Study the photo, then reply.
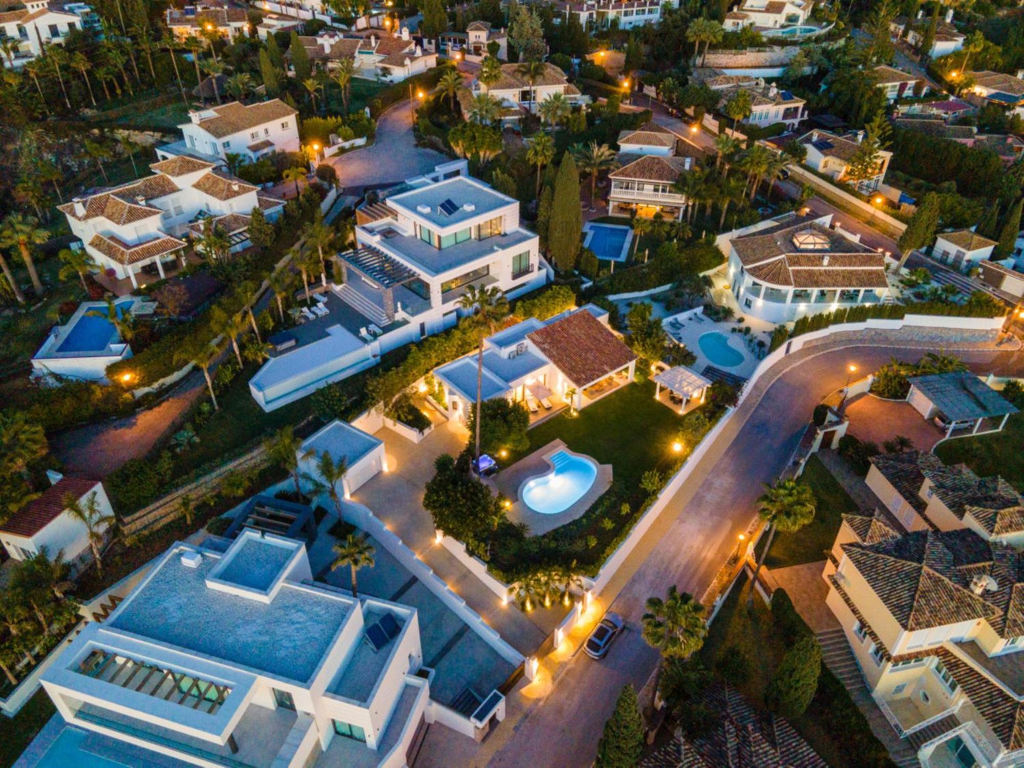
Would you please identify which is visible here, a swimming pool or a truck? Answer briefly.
swimming pool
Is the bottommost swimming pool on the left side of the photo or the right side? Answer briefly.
left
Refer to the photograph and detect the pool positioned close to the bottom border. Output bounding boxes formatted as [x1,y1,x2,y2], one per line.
[11,720,187,768]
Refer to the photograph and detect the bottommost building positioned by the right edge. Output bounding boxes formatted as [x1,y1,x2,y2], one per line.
[819,453,1024,768]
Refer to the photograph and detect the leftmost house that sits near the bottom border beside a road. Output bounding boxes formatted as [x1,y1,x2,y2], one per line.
[33,526,435,768]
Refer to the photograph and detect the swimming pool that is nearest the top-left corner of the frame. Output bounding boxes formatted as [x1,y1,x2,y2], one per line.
[28,295,158,373]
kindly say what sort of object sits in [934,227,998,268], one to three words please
house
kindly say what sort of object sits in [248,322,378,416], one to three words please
swimming pool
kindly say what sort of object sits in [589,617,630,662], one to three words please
car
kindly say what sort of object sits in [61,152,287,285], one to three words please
house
